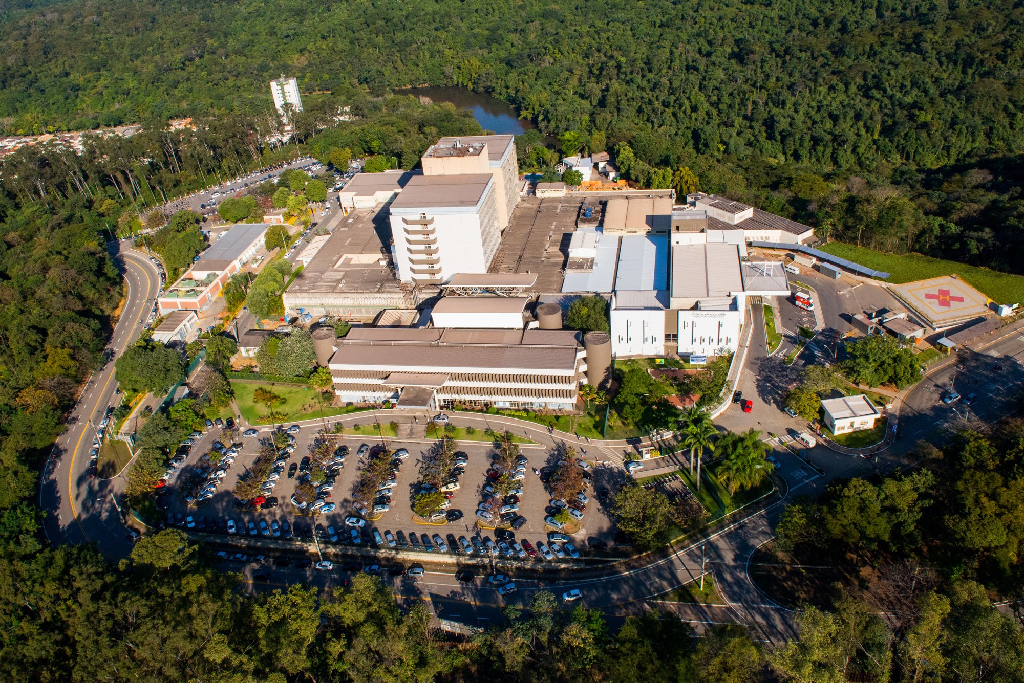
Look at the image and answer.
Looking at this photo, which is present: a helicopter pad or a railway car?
helicopter pad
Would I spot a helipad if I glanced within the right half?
Yes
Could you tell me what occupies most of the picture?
trees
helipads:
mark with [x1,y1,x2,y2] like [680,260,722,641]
[887,274,997,331]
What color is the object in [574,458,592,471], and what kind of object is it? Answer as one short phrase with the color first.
gray vehicle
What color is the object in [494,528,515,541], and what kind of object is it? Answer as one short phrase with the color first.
black vehicle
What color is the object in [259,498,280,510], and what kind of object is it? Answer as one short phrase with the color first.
black vehicle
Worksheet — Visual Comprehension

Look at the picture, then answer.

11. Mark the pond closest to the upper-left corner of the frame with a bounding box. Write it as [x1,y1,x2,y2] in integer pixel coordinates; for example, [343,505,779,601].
[412,84,542,151]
